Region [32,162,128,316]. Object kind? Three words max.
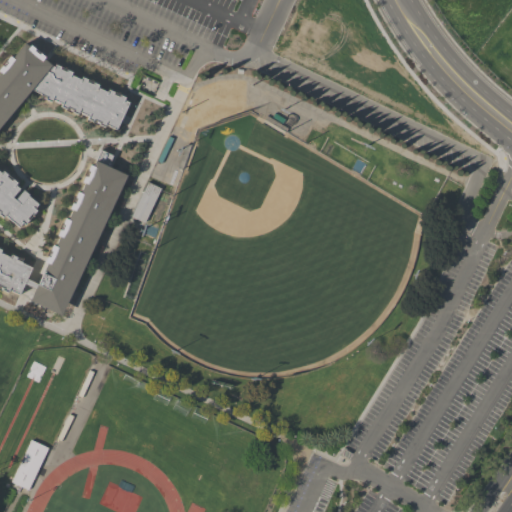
building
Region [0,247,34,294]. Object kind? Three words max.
building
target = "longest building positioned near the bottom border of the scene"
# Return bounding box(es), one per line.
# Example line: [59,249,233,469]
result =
[14,440,50,490]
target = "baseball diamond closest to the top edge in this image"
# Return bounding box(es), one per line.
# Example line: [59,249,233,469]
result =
[132,108,422,378]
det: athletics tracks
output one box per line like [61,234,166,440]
[27,426,185,512]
